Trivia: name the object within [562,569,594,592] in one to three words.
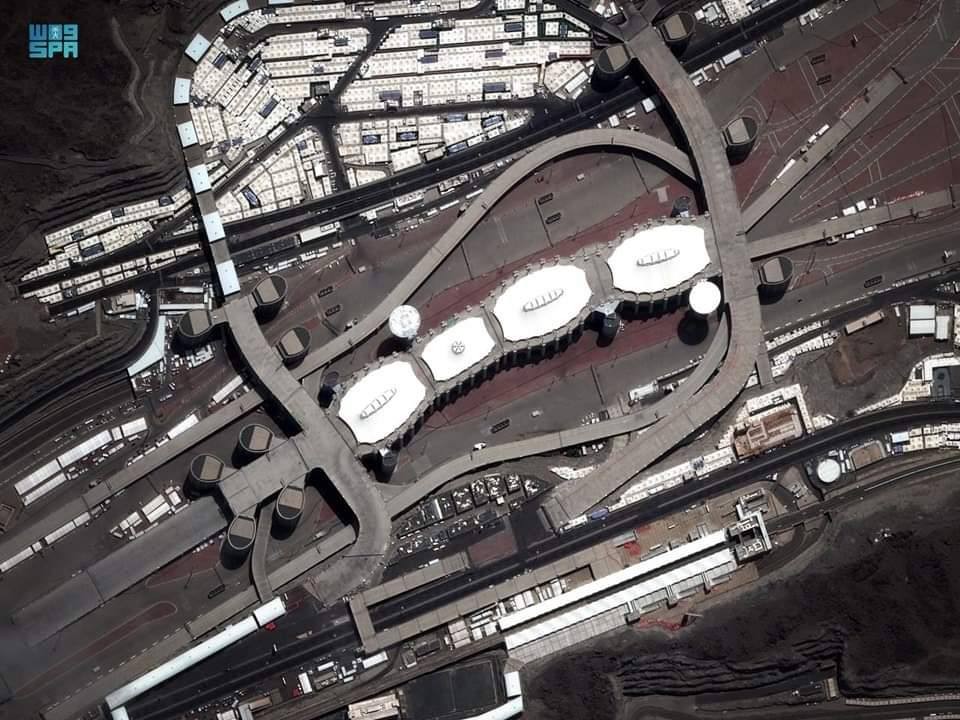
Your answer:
building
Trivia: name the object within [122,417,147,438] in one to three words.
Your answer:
building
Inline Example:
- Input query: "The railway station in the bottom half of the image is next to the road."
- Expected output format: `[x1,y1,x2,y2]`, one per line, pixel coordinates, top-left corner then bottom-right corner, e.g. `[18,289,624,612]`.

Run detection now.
[498,488,771,673]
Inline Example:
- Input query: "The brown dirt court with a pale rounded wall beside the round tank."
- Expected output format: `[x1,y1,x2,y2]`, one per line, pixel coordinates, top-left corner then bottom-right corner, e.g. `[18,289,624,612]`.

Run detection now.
[847,439,889,472]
